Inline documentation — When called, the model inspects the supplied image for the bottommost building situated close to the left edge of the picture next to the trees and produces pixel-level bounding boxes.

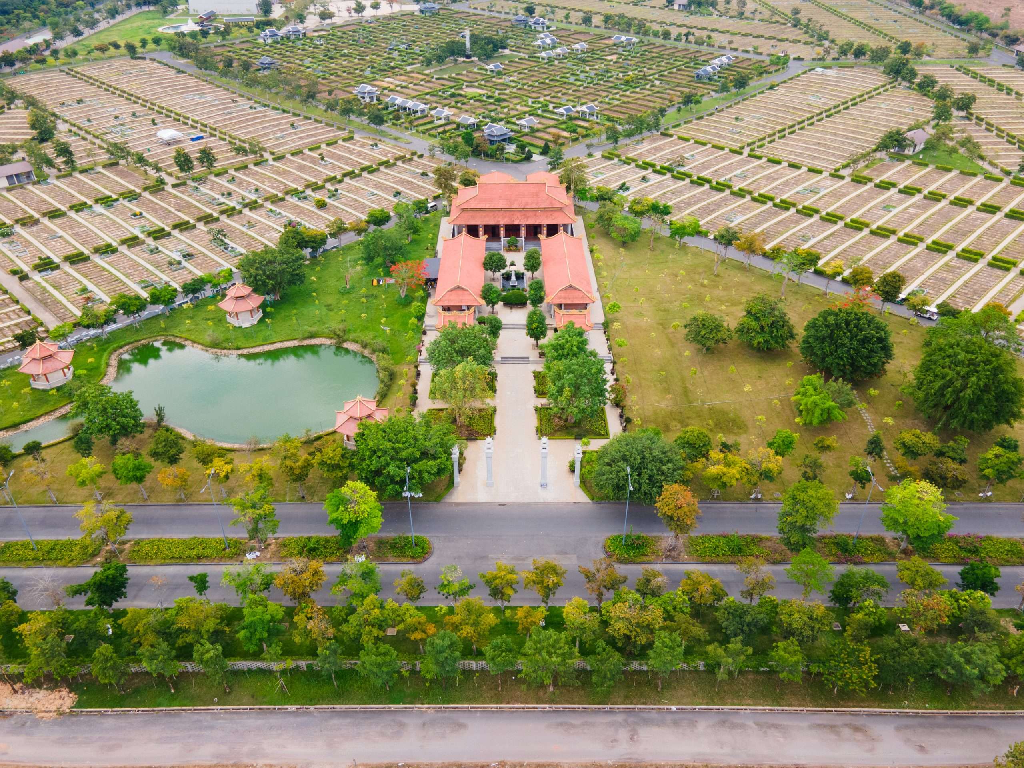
[10,334,78,385]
